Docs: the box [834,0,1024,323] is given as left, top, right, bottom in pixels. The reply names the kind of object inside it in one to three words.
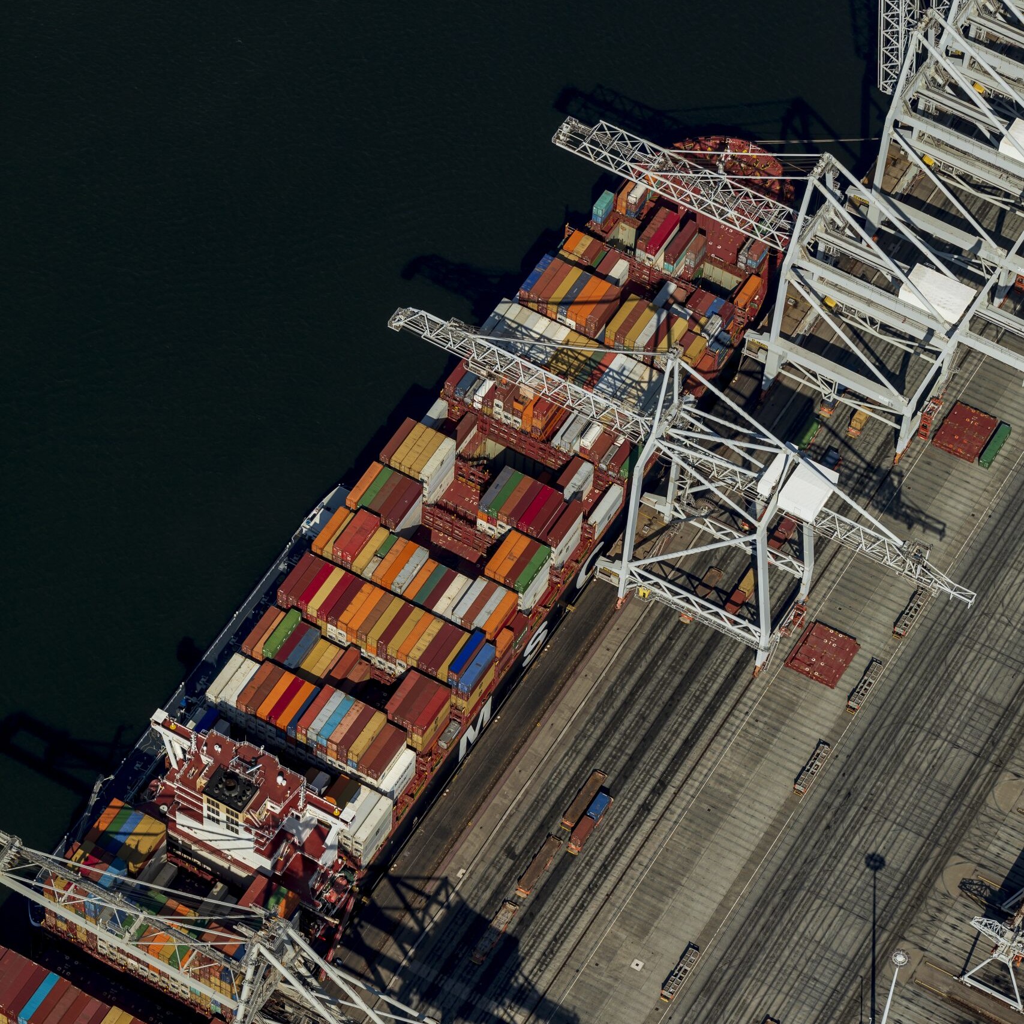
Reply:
container crane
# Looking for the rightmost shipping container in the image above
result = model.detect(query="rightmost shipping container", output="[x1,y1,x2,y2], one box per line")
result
[978,424,1012,470]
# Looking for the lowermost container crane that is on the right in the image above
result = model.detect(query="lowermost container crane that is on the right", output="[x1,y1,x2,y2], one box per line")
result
[958,887,1024,1012]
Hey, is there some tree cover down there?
No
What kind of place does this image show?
port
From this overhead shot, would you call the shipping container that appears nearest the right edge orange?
No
